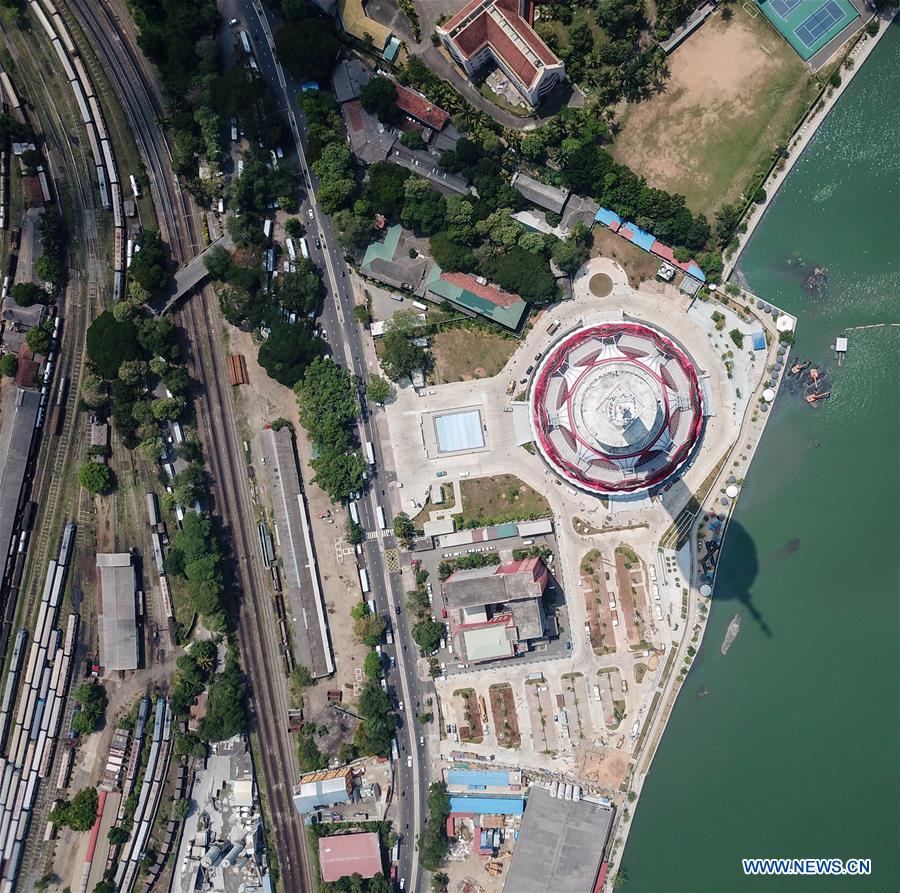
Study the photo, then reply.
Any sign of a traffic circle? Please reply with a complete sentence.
Yes, there is a traffic circle in the image.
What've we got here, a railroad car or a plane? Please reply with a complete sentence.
I can see a railroad car in this picture.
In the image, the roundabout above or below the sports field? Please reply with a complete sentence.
Looking at the photo, you'll find the roundabout below the sports field.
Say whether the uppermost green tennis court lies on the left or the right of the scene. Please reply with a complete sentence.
The uppermost green tennis court is on the right side of the image.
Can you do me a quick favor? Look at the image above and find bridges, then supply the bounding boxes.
[164,234,228,302]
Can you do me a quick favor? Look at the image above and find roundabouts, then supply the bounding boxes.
[570,253,633,316]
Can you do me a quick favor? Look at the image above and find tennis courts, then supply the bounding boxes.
[768,0,804,18]
[758,0,860,61]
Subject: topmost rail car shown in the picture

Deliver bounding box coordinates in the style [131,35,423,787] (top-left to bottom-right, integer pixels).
[97,166,113,210]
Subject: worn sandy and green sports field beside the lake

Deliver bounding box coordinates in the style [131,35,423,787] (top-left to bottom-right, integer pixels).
[613,0,813,221]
